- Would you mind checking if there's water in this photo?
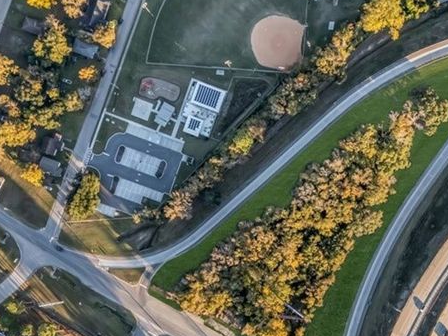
No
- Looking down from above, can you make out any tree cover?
Yes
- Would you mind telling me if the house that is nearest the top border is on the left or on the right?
left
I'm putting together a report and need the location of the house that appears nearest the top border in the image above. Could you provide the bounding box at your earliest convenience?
[89,0,111,24]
